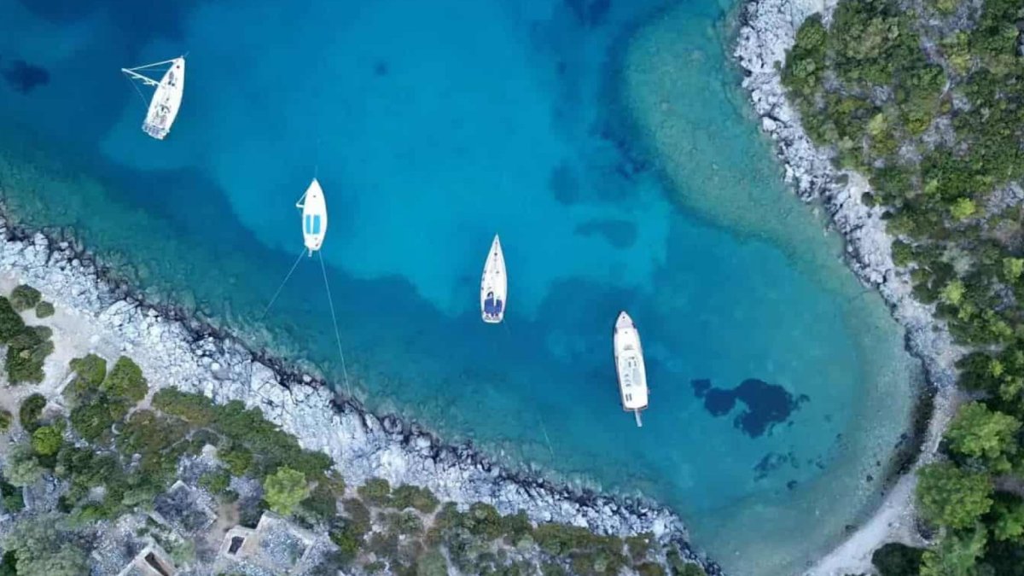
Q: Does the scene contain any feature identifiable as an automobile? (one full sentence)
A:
No, there's no automobile here.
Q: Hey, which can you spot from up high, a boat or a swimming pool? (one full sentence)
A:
Visible in the photo is a boat.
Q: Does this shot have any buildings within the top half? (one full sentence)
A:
No, looking within the top half, there is no building.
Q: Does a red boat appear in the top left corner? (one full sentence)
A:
No, there's no red boat to be seen in the top left corner.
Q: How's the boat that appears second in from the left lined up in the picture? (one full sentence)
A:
The boat that appears second in from the left has been laid out vertically relative to the frame.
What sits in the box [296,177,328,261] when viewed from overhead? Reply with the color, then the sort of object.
white boat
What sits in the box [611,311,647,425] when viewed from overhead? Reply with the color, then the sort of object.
white boat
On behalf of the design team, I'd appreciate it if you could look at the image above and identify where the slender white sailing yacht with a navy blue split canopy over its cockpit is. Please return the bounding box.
[482,233,508,322]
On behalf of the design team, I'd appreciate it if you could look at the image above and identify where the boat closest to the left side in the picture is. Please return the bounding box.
[115,55,187,142]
